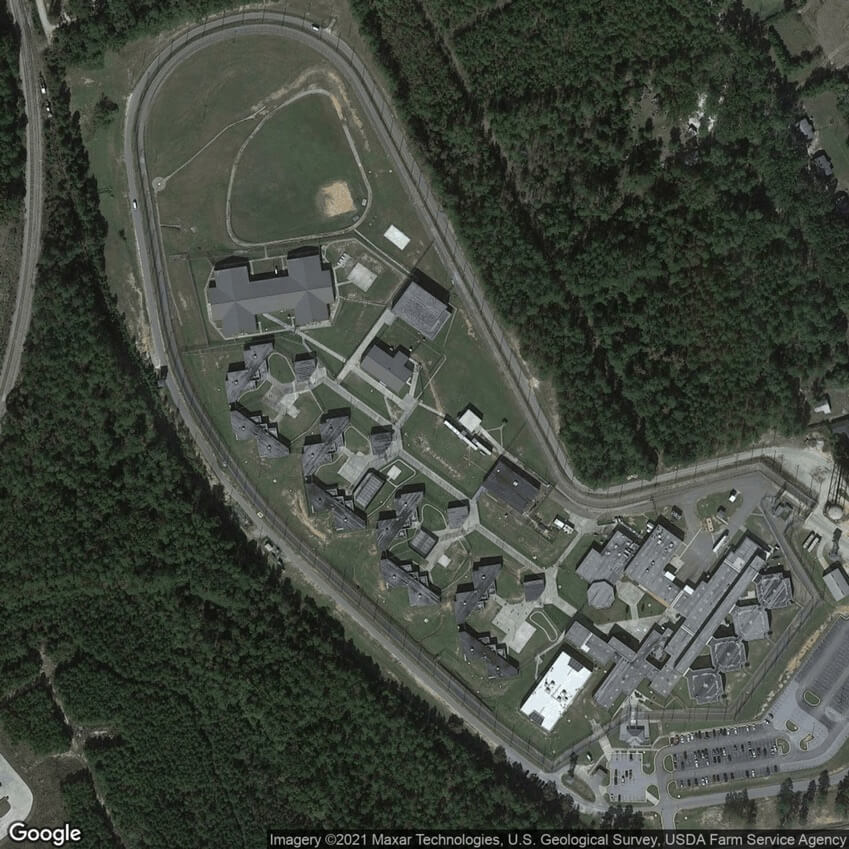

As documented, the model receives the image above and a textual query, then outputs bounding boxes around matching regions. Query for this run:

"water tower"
[823,499,849,523]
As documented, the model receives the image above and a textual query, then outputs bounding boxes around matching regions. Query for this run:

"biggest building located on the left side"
[208,255,336,337]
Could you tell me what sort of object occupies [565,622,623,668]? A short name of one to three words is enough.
building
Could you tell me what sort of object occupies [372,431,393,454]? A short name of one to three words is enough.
building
